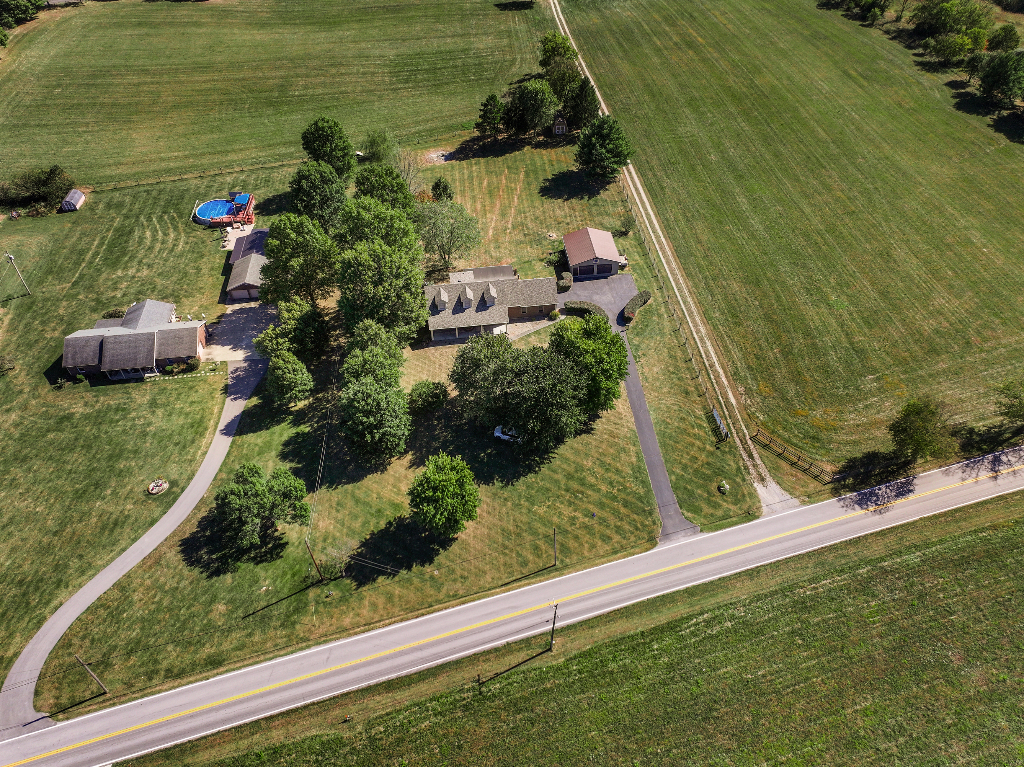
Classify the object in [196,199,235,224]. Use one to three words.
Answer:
swimming pool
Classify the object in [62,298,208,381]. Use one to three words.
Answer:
house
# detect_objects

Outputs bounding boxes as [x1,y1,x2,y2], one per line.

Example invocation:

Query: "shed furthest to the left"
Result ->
[60,188,85,211]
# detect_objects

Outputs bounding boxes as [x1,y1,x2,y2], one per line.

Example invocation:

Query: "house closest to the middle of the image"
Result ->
[425,264,559,341]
